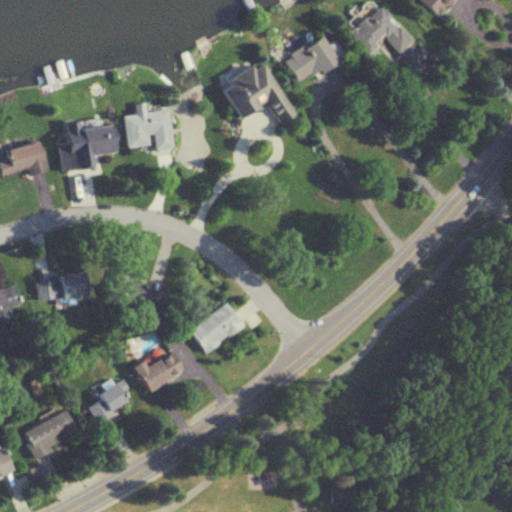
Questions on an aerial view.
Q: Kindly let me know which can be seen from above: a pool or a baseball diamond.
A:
pool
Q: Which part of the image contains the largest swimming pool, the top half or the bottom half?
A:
bottom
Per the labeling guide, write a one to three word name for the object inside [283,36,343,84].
house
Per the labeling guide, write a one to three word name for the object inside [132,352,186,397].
house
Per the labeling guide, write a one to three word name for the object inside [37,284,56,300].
building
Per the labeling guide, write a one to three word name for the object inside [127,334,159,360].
swimming pool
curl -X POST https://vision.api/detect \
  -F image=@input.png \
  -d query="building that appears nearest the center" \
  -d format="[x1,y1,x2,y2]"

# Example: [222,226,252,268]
[194,304,248,353]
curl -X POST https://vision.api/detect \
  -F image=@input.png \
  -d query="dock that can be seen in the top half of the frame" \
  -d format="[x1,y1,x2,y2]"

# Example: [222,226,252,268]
[40,70,104,94]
